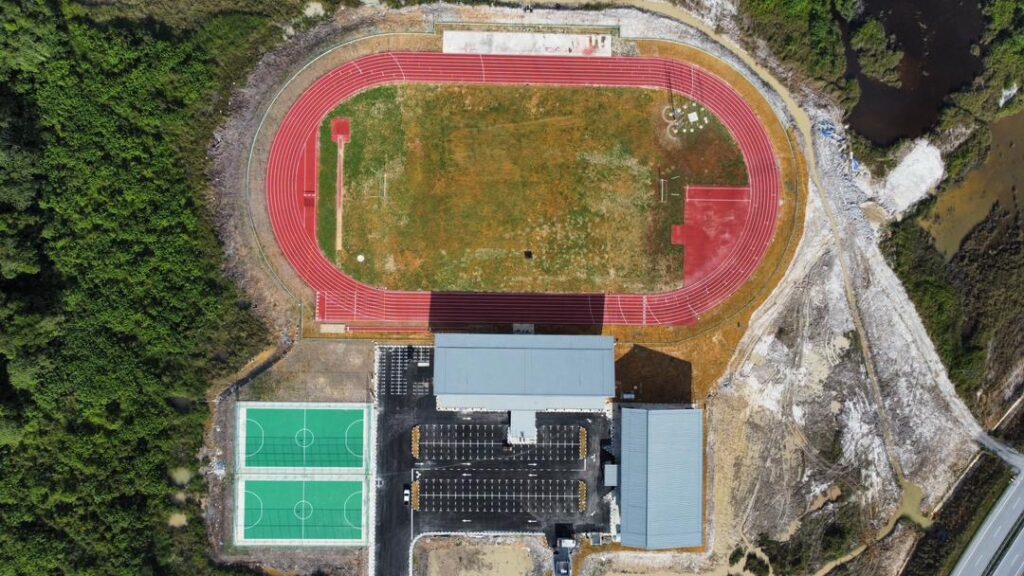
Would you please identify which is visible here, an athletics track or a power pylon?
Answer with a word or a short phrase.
athletics track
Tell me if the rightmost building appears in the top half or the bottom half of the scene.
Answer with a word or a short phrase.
bottom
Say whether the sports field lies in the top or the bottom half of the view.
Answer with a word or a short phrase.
top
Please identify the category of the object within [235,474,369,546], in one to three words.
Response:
sports court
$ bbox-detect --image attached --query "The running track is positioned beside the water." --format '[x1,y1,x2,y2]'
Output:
[267,53,780,327]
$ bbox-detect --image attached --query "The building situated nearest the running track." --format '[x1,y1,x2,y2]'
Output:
[618,405,705,550]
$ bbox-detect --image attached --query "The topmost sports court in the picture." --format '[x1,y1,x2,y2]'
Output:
[236,402,370,474]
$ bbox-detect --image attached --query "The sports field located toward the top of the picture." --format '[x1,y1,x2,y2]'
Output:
[317,82,750,298]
